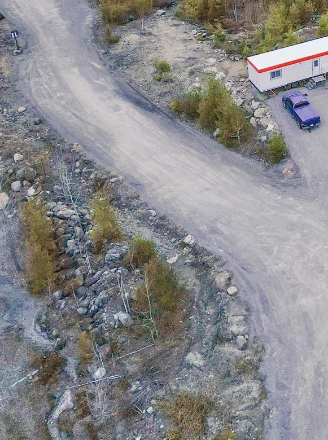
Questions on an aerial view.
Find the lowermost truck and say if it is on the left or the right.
right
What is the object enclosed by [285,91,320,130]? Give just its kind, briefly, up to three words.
truck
